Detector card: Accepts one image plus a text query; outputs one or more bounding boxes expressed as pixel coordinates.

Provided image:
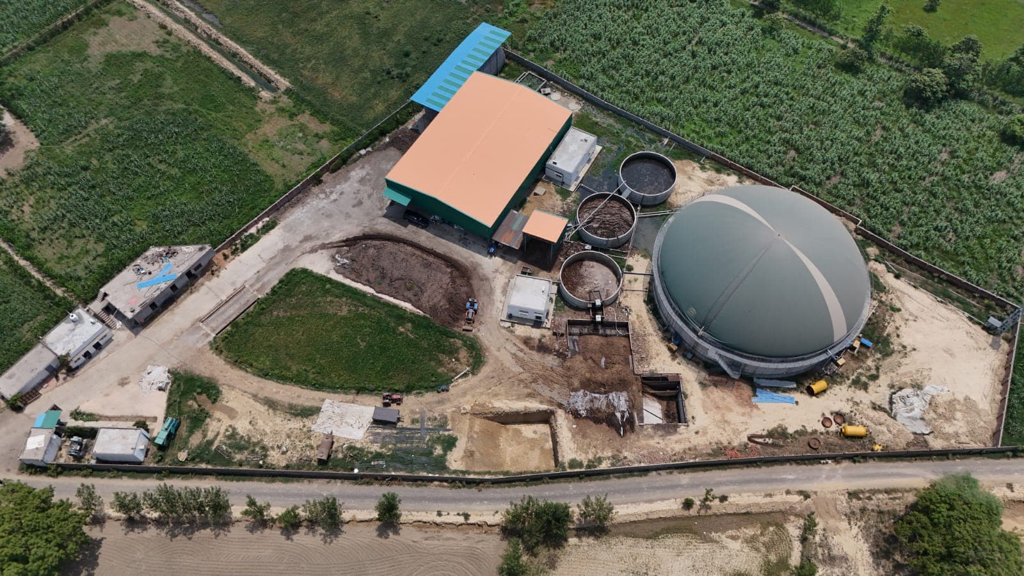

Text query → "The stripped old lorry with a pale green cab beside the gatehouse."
[62,431,83,464]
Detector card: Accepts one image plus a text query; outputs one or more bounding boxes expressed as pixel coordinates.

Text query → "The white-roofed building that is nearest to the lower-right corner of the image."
[510,276,556,326]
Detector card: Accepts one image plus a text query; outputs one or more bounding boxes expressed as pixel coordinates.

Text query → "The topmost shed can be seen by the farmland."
[410,23,511,124]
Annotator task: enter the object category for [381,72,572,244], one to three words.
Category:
warehouse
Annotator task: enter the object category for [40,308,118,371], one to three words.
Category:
house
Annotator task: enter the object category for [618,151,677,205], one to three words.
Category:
storage tank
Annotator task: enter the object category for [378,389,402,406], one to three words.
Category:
work vehicle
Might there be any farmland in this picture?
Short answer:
Yes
